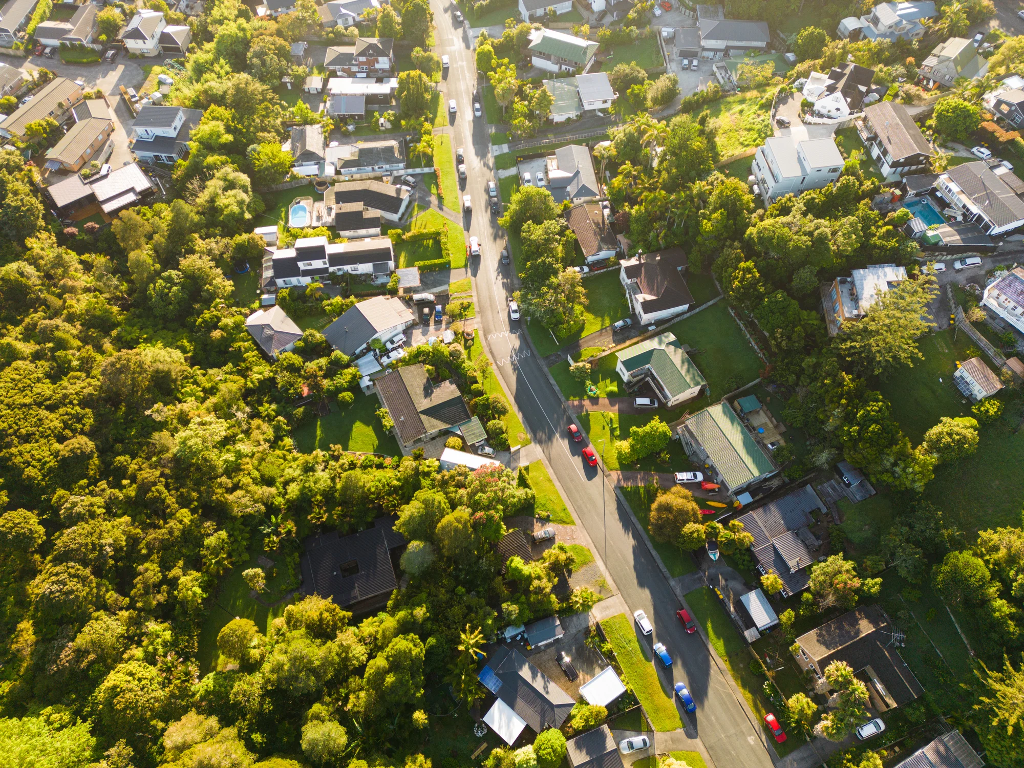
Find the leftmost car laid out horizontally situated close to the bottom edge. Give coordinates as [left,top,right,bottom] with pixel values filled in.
[620,736,649,751]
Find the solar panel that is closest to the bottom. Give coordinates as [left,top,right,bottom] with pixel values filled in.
[478,666,502,694]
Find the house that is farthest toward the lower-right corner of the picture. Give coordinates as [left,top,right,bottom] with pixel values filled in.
[894,729,985,768]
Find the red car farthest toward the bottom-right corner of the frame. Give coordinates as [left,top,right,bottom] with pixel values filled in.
[763,713,786,742]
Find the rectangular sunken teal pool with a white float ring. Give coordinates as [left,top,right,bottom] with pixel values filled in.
[902,192,948,228]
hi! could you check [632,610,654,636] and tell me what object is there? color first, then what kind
white car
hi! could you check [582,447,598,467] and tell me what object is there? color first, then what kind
red car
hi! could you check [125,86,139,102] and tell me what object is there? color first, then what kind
white vehicle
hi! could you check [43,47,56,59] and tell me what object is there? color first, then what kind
gray vehicle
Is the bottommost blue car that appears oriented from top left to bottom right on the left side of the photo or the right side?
right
